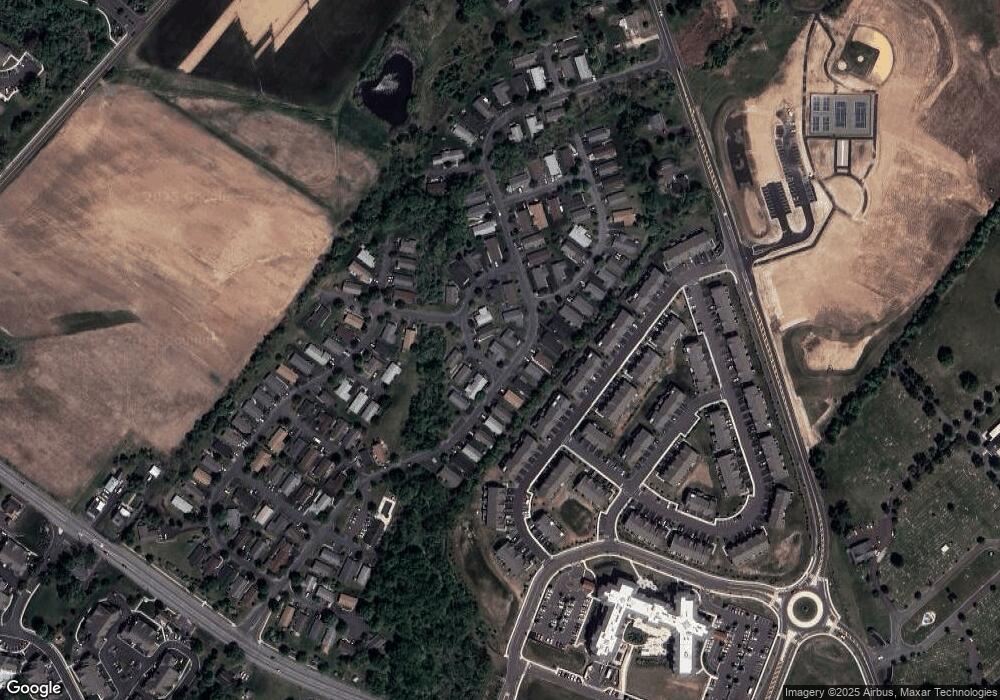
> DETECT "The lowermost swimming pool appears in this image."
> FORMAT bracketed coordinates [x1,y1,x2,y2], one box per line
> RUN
[378,497,395,526]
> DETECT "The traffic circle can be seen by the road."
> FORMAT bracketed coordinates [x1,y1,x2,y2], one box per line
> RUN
[777,582,832,637]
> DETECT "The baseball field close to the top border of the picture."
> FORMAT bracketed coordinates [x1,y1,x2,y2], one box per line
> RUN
[833,25,894,85]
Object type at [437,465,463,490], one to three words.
house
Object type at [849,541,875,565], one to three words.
building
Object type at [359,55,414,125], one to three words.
pond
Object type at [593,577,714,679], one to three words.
building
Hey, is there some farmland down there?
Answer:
Yes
